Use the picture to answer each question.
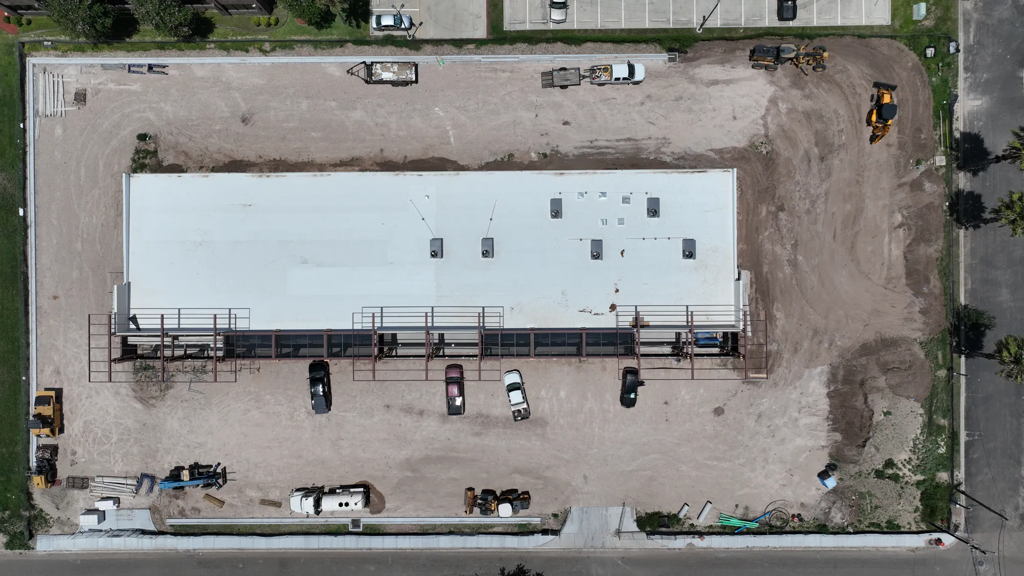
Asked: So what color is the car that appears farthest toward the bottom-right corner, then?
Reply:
black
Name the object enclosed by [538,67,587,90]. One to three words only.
trailer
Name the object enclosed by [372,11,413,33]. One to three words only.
car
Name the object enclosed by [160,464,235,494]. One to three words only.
work vehicle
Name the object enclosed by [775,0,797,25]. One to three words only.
truck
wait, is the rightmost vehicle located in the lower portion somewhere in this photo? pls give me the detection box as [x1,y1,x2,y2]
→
[619,366,645,408]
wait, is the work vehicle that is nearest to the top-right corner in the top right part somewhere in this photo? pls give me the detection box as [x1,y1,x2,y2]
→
[864,79,900,140]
